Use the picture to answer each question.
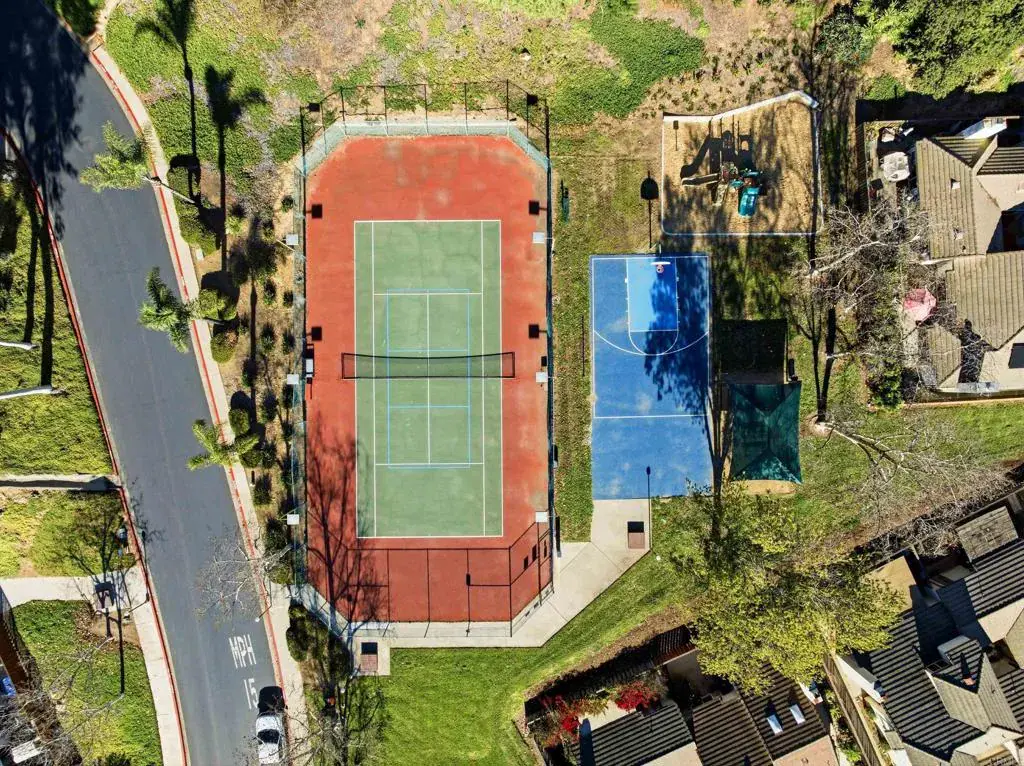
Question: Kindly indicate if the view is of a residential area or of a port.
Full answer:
This image shows a residential area.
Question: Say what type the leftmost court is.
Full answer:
The leftmost court in the image is a tennis court.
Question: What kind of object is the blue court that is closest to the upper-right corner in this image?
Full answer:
The blue court that is closest to the upper-right corner is a basketball court.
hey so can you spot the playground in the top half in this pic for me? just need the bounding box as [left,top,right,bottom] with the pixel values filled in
[661,90,823,236]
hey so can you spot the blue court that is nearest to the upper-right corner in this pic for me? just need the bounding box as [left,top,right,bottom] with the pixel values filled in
[590,254,713,500]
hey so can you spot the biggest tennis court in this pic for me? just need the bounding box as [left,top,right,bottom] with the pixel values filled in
[307,136,551,623]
